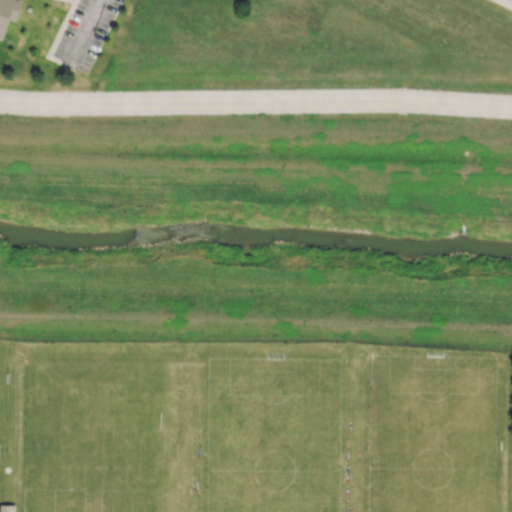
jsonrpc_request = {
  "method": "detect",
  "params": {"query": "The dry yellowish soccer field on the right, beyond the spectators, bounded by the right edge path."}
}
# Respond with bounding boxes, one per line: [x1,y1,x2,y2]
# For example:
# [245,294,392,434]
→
[370,356,498,512]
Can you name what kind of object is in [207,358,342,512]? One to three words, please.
soccer field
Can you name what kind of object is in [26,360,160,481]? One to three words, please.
soccer field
